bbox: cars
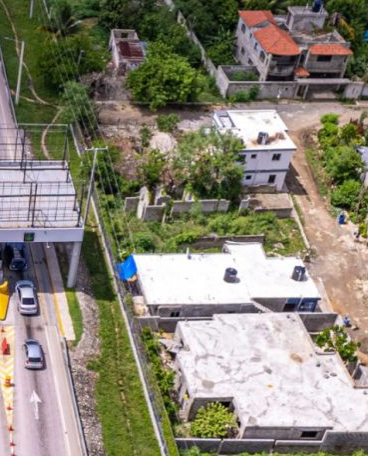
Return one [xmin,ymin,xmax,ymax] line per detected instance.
[22,341,46,372]
[5,242,27,271]
[14,283,39,315]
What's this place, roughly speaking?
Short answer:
residential area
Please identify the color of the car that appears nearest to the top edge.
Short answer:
black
